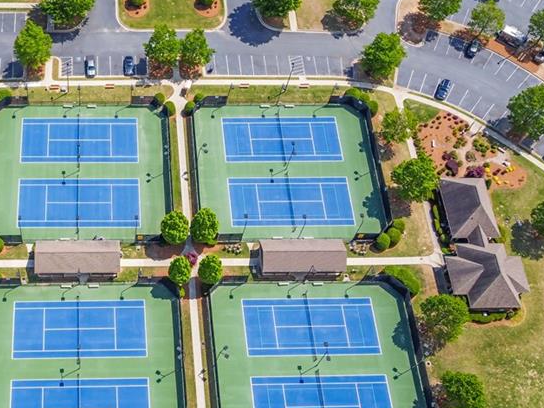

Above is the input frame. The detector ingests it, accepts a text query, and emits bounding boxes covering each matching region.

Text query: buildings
[257,239,348,279]
[35,240,121,280]
[437,178,530,317]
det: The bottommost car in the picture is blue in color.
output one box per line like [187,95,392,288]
[436,78,452,98]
